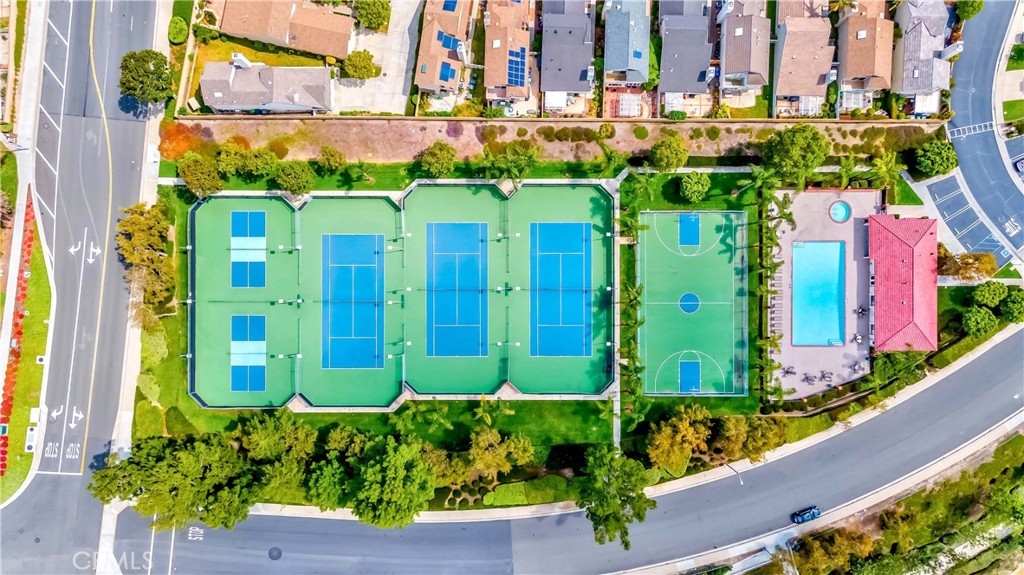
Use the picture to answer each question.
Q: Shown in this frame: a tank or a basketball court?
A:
basketball court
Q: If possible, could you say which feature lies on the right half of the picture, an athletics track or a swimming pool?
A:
swimming pool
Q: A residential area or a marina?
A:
residential area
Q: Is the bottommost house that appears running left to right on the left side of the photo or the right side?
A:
left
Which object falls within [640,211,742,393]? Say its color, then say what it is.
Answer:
green basketball court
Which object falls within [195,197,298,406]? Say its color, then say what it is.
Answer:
green sports court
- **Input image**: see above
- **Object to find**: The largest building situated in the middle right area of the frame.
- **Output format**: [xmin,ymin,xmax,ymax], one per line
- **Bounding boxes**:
[858,214,938,352]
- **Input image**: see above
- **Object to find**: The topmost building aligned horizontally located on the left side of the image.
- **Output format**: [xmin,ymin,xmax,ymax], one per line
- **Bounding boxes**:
[220,0,357,61]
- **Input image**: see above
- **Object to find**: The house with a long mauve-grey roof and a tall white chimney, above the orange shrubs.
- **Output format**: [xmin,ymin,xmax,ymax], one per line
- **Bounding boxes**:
[201,51,335,112]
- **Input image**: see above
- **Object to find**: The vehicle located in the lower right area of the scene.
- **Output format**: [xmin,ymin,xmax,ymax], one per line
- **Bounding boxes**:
[792,507,821,526]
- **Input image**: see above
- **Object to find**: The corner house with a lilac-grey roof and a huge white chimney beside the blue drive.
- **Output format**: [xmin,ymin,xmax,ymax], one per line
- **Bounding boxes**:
[889,0,966,99]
